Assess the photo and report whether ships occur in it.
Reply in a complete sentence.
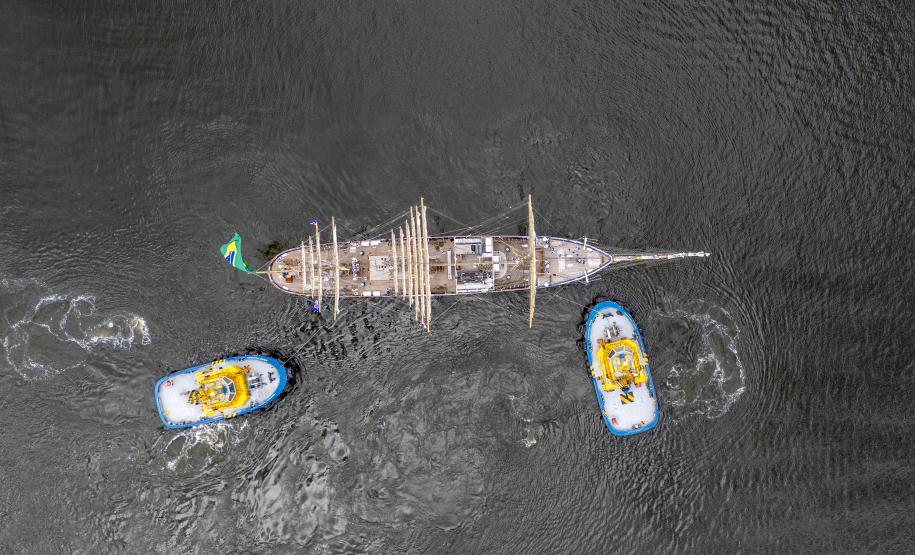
Yes, a ship is visible in the scene.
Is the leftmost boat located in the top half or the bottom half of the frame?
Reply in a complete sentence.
The leftmost boat sits in the bottom half of the picture.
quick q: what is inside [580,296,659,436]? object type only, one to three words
boat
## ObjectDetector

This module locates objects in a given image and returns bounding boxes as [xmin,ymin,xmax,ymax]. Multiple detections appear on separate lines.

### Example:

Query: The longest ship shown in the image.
[256,195,710,332]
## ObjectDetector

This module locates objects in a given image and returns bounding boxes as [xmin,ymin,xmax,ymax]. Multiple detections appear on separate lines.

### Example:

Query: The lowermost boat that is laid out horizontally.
[157,349,295,427]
